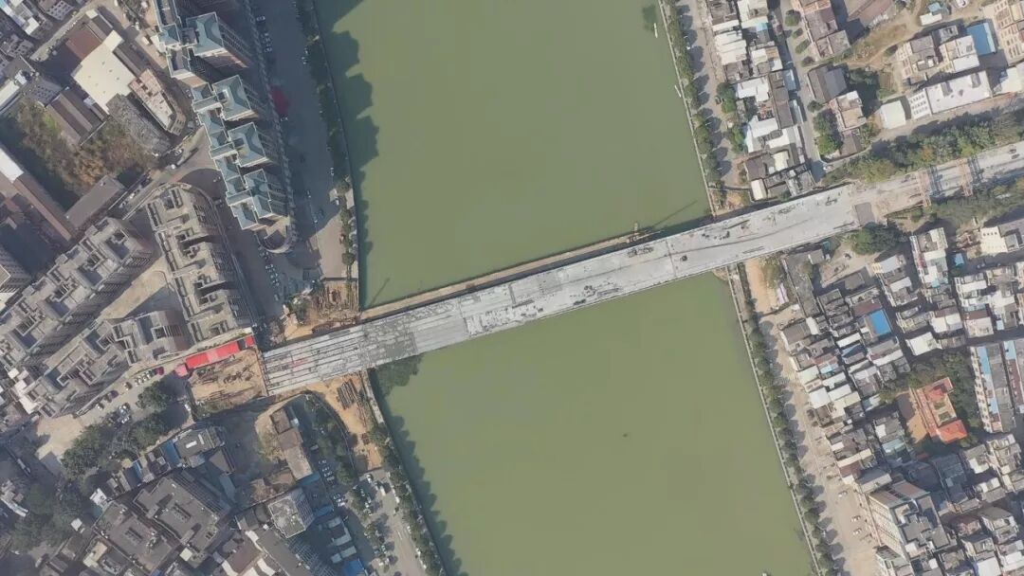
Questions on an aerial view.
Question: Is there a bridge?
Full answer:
Yes, there is a bridge in the image.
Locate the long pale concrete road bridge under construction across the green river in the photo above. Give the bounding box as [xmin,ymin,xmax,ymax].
[263,184,861,396]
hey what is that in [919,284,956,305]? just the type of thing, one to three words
house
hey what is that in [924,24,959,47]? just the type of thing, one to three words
house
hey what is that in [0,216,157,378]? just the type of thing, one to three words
building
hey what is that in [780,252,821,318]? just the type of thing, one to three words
building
